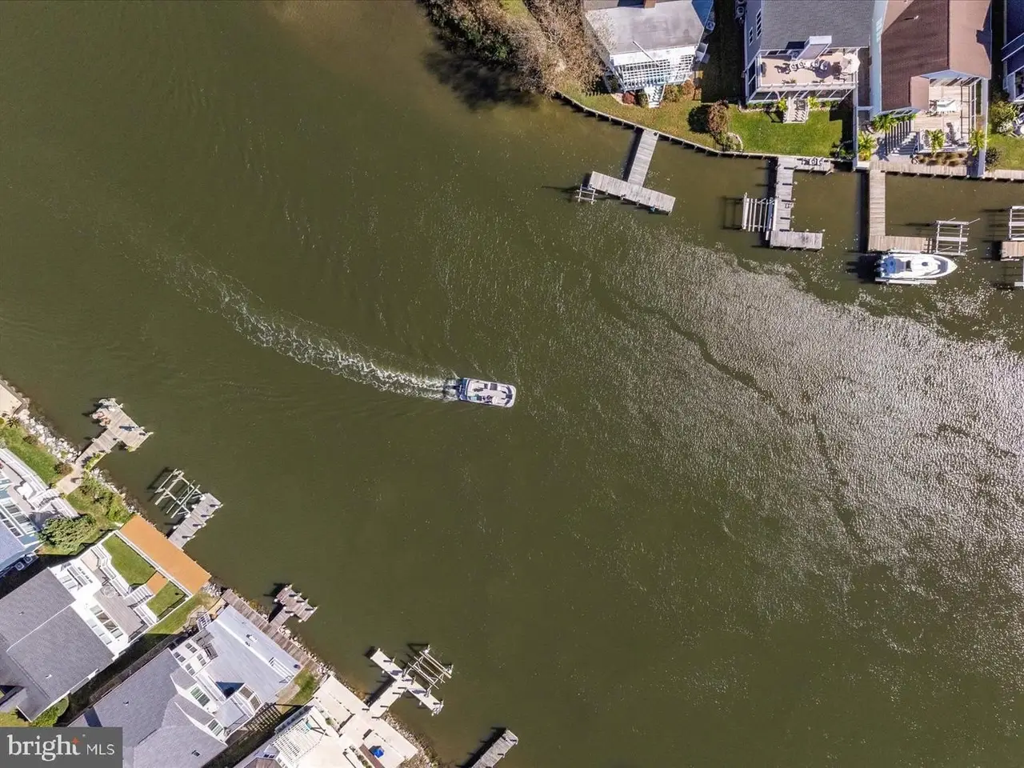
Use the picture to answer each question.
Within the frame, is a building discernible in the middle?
No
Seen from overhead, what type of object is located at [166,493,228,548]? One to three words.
pier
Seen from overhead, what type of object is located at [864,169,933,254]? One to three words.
pier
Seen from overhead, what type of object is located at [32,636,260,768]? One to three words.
house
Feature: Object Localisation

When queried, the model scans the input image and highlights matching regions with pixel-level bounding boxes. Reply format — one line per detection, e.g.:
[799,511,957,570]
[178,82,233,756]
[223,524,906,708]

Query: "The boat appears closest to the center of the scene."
[456,378,516,407]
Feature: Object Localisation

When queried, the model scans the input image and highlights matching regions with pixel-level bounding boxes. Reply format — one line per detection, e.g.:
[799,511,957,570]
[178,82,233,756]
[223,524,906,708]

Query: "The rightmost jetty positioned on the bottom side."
[472,724,519,768]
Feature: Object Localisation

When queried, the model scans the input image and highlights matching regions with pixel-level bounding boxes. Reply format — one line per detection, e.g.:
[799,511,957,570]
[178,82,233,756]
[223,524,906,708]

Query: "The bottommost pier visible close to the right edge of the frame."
[996,240,1024,261]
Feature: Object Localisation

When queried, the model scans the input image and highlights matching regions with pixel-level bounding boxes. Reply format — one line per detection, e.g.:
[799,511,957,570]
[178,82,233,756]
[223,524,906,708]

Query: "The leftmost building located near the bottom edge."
[0,546,138,736]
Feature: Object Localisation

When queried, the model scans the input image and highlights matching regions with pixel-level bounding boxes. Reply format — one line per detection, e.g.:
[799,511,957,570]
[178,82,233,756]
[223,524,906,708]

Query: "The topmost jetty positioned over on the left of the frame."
[76,397,158,467]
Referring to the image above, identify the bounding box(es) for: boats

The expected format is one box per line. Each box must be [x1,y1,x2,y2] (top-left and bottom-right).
[456,378,516,407]
[871,253,962,280]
